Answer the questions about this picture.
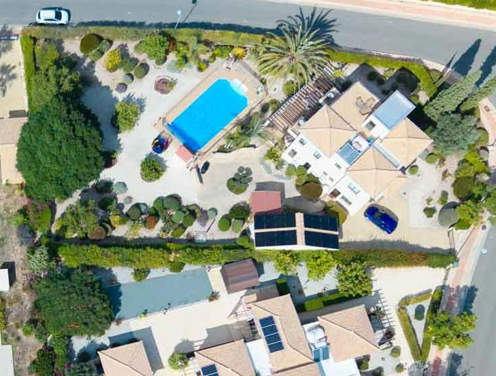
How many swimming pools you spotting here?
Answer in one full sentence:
The count comes to 1 swimming pool.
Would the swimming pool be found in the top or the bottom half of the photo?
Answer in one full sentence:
The swimming pool sits in the top half of the picture.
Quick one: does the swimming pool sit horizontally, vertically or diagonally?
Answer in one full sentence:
I'd say the swimming pool is aligned diagonally in the picture.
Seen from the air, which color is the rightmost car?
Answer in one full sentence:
In this view, the rightmost car is blue.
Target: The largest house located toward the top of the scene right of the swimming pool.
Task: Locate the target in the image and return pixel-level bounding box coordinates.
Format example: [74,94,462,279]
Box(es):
[277,82,434,212]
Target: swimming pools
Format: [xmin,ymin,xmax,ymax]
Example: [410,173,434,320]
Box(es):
[164,78,249,154]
